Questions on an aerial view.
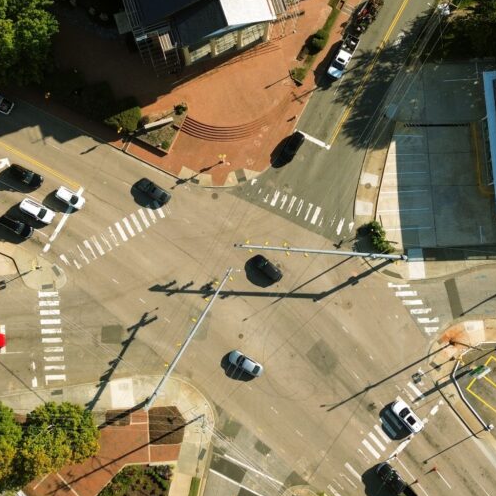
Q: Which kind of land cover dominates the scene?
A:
paved ground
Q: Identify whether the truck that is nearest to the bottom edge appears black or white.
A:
black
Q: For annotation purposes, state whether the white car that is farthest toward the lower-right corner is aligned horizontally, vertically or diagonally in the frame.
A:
diagonally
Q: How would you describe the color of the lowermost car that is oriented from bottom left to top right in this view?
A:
black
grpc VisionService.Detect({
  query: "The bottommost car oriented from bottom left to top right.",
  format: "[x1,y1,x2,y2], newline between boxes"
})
[273,130,306,167]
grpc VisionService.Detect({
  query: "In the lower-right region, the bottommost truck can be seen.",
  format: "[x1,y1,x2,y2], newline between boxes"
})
[373,458,420,496]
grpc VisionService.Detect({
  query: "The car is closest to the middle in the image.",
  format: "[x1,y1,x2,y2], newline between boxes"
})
[247,251,285,283]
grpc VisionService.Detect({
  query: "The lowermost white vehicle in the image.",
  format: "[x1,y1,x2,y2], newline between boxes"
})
[387,395,428,437]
